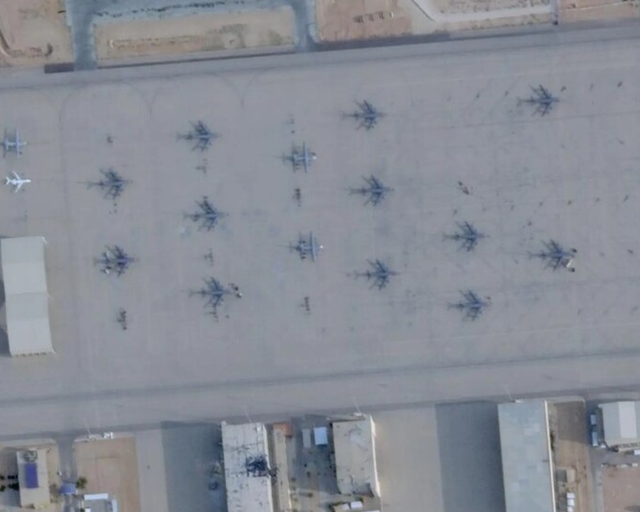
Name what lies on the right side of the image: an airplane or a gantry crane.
airplane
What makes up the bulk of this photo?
paved ground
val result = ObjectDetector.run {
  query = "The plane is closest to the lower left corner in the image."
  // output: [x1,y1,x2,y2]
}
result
[104,246,138,276]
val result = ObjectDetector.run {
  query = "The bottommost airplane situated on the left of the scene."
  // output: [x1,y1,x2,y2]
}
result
[199,277,233,308]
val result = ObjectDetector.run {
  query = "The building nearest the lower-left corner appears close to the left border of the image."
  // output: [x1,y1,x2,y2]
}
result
[16,450,50,509]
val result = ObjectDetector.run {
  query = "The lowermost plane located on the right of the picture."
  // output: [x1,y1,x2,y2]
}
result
[457,290,492,322]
